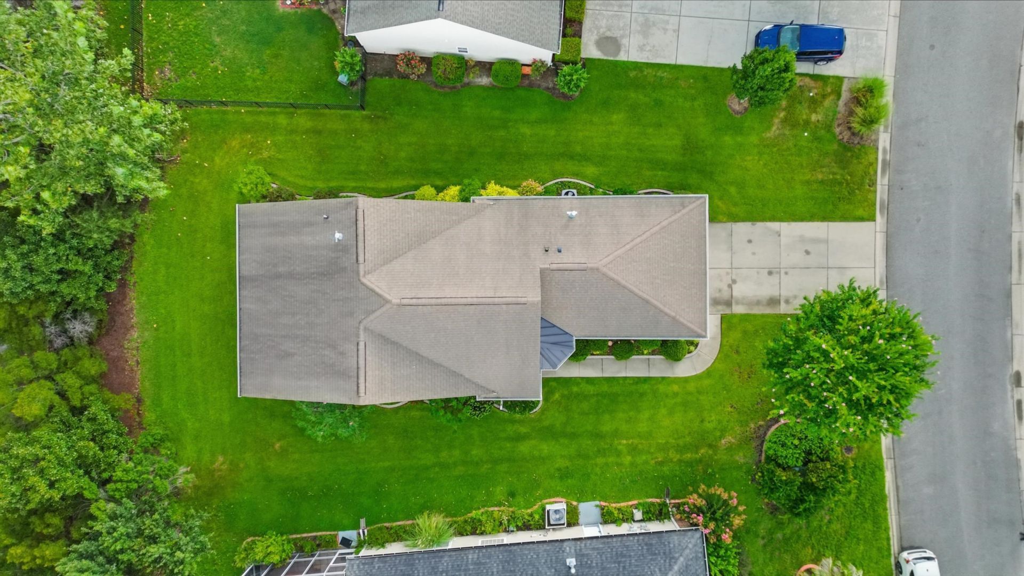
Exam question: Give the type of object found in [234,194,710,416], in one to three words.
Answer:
house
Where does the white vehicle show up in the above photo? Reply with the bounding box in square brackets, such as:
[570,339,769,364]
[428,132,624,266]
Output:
[899,549,941,576]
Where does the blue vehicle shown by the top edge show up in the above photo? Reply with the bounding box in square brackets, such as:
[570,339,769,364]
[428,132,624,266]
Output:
[754,17,849,65]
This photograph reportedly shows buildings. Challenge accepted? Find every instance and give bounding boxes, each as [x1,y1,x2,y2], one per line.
[343,0,566,71]
[345,502,712,576]
[234,194,710,416]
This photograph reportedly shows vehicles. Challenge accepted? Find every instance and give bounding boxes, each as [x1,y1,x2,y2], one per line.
[754,17,849,65]
[899,549,941,576]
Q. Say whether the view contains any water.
No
